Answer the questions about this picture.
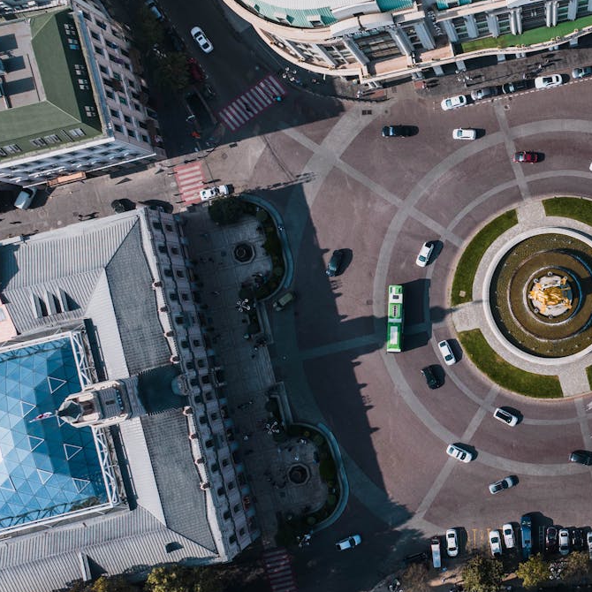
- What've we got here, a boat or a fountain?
fountain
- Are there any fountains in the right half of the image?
Yes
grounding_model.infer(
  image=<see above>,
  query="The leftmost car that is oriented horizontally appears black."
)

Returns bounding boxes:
[112,200,136,212]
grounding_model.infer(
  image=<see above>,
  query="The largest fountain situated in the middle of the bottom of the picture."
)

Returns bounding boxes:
[287,464,309,486]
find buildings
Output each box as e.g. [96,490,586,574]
[215,0,592,86]
[0,6,159,195]
[0,207,258,592]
